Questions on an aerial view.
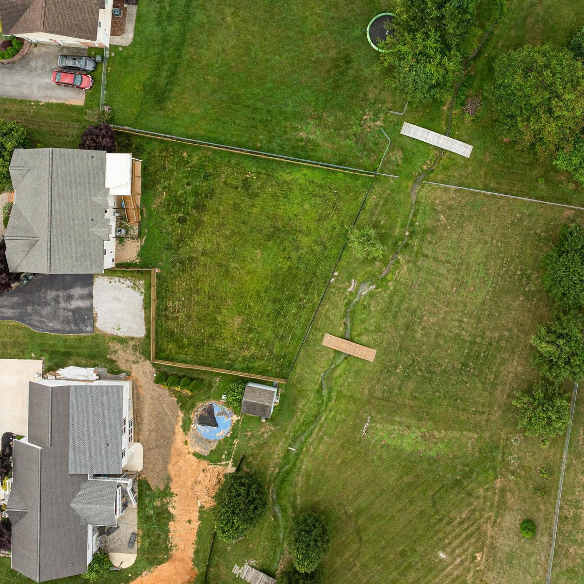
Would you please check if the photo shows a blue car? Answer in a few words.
No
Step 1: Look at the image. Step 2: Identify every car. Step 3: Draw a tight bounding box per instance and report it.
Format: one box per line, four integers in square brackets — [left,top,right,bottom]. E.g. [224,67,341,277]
[57,54,98,73]
[51,70,94,92]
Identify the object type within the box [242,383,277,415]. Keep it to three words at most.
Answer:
shed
